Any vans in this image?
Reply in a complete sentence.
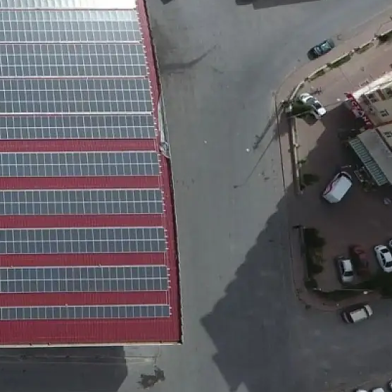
Yes, looking at the shot, I can spot a van.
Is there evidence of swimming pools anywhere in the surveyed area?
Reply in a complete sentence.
No, this view has no swimming pool in it.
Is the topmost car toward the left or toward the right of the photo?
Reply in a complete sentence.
It is on the right.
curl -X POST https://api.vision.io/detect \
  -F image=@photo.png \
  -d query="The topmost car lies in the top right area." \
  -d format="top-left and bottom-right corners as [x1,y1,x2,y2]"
[304,38,336,60]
